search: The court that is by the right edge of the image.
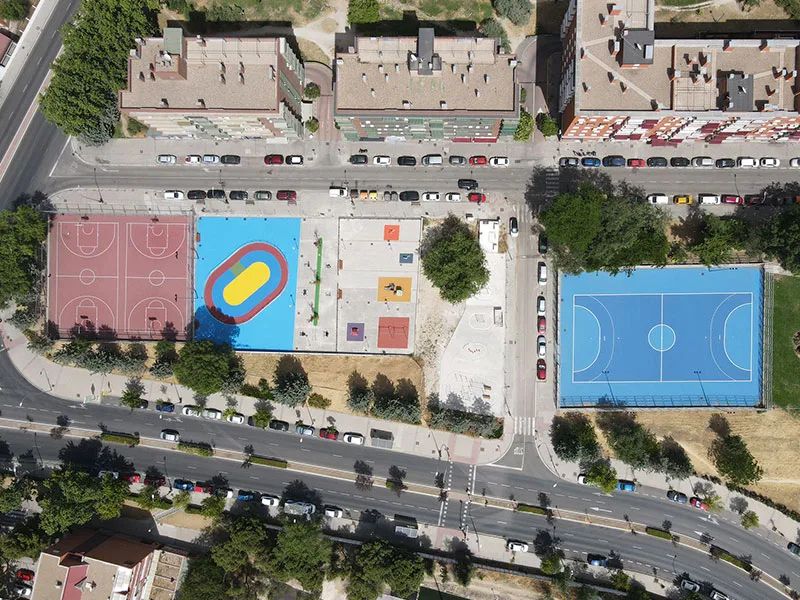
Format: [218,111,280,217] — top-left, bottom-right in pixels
[559,264,764,407]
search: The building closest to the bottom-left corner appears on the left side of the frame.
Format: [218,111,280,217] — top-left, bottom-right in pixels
[29,533,158,600]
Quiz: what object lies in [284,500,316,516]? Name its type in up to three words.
vehicle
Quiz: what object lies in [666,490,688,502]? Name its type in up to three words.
vehicle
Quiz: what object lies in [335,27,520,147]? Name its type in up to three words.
building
